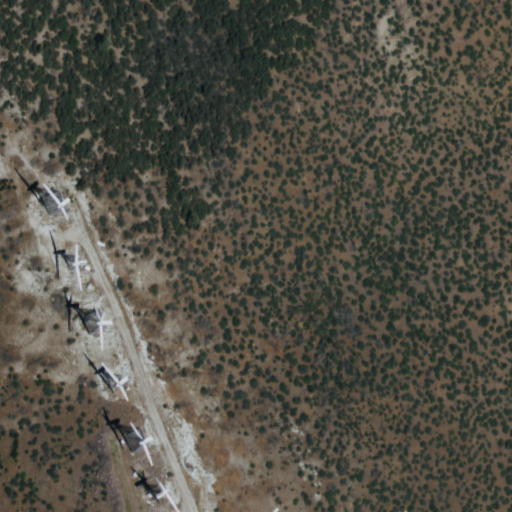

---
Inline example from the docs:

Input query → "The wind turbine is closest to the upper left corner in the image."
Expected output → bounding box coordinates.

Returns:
[41,184,71,221]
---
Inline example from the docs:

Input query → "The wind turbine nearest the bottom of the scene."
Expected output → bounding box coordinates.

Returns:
[147,478,180,512]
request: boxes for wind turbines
[41,184,71,221]
[65,244,88,290]
[122,424,154,465]
[80,308,112,350]
[101,363,128,399]
[147,478,180,512]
